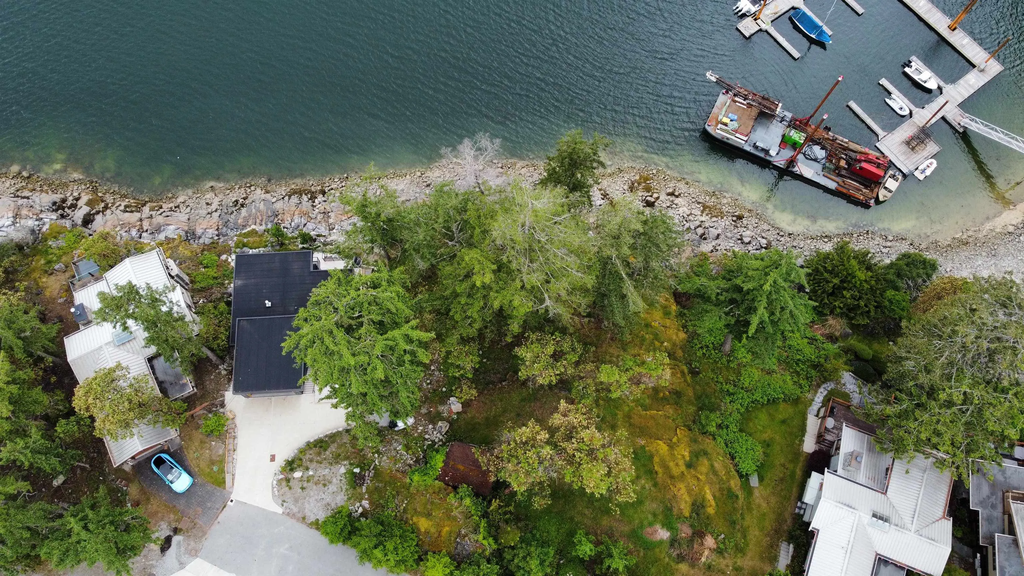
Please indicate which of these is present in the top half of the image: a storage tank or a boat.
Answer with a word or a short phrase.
boat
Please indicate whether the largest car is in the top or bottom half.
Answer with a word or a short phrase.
bottom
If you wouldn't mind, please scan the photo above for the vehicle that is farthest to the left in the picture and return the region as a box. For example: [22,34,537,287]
[146,449,191,496]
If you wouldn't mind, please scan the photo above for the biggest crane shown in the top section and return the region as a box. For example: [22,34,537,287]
[703,68,892,190]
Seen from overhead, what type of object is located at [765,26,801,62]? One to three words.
pier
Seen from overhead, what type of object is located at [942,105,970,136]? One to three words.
pier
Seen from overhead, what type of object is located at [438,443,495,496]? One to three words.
shed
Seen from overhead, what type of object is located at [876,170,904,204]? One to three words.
boat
